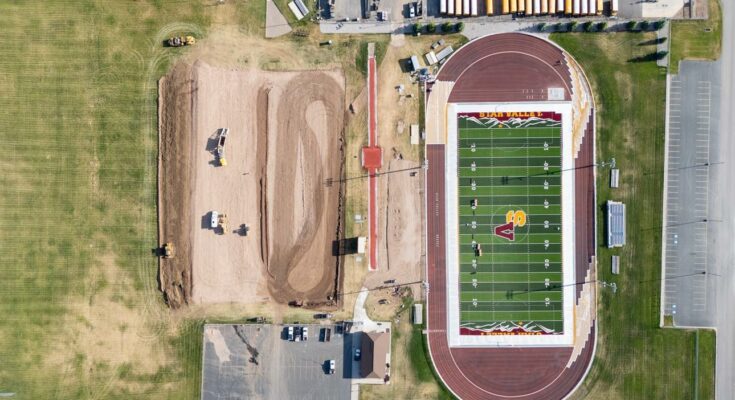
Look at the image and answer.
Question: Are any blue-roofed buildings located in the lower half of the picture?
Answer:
No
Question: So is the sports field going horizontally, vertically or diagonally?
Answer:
vertically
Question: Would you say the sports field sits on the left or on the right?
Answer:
right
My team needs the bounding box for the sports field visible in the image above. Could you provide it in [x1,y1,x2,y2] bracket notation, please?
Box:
[446,101,574,348]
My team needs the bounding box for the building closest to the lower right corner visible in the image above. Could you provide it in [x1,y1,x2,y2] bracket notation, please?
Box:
[360,333,388,380]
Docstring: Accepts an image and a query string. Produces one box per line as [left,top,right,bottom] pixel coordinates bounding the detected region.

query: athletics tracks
[422,31,597,400]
